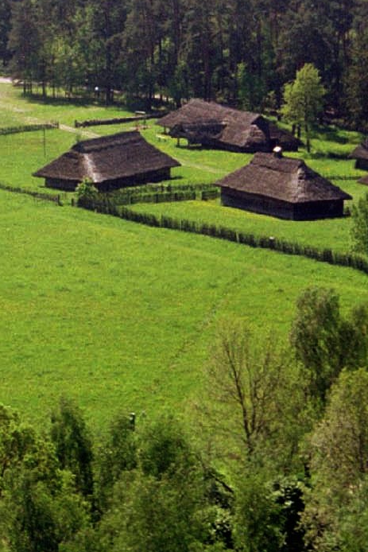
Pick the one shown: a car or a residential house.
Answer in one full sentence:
Visible in the photo is a residential house.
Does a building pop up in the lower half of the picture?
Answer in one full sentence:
No, in the lower half of the picture there is no building.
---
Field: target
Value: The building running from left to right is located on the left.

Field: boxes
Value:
[29,134,188,193]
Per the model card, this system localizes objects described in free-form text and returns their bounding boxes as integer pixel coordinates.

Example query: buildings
[29,134,188,193]
[317,129,368,170]
[161,105,310,153]
[211,147,354,221]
